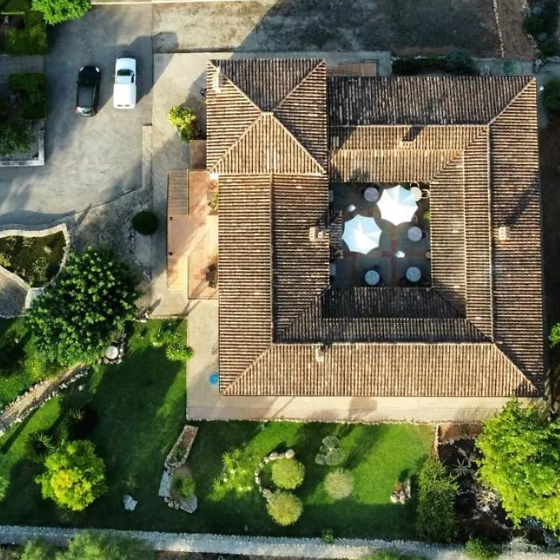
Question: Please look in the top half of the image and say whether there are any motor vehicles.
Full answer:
Yes, there is a motor vehicle in the top half of the image.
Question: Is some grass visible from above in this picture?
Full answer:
Yes, grass shows up in the scene.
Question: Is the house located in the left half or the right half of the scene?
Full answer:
You can find the house on the right side of the picture.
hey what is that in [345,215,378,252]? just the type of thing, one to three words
umbrella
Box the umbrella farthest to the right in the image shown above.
[376,184,415,225]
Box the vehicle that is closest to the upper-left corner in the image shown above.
[75,66,101,115]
